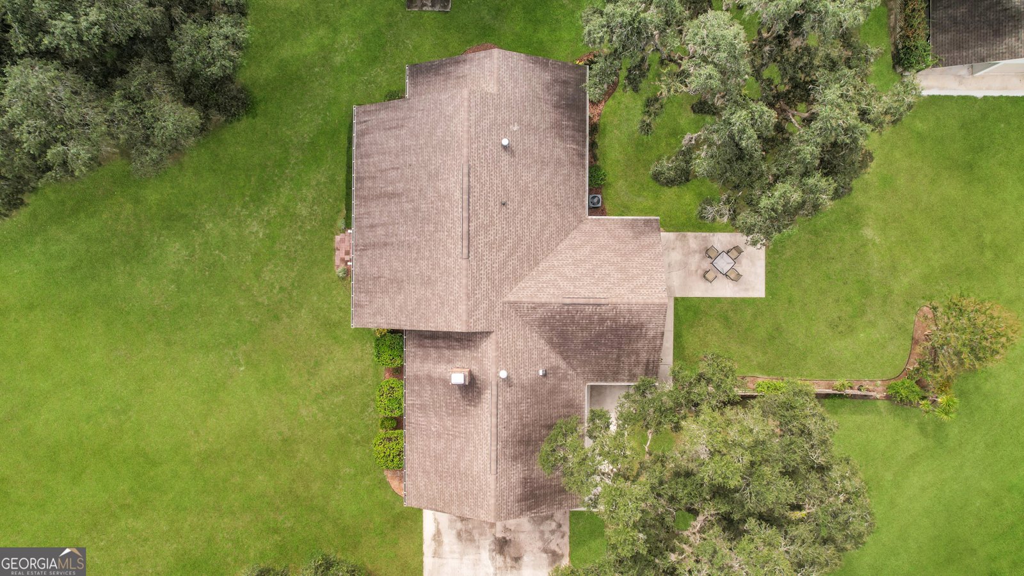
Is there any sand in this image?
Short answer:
No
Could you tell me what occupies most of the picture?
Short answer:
grass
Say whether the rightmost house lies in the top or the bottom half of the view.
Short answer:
top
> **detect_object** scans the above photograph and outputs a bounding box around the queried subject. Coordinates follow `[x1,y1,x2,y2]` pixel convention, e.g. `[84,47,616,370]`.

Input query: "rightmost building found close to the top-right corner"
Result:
[921,0,1024,76]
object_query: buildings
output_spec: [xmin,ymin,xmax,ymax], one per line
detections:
[350,48,670,524]
[921,0,1024,76]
